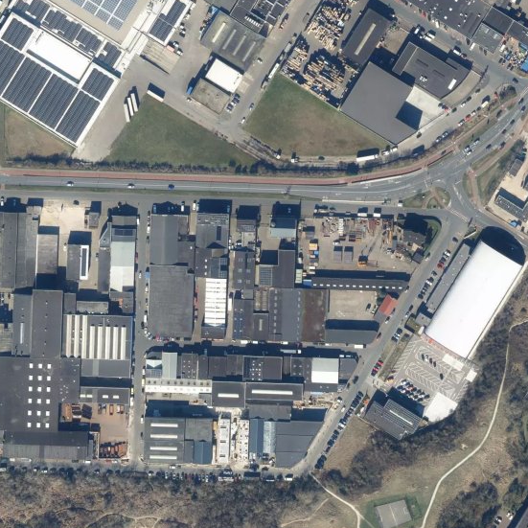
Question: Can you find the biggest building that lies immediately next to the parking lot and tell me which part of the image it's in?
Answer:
right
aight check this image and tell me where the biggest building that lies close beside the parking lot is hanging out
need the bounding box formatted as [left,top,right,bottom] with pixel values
[424,239,523,359]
